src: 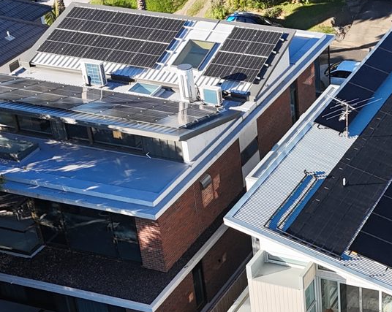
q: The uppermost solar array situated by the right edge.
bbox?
[318,37,392,134]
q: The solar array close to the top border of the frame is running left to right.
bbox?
[37,6,187,67]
